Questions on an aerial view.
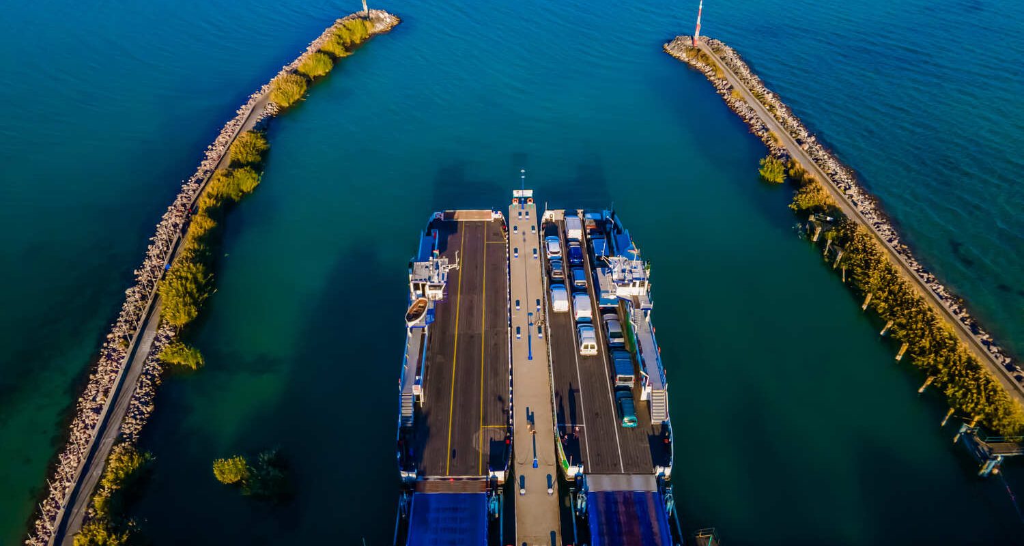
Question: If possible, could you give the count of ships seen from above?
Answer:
2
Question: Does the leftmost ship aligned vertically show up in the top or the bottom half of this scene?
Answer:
bottom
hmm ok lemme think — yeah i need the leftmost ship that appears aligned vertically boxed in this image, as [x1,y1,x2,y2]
[393,212,511,508]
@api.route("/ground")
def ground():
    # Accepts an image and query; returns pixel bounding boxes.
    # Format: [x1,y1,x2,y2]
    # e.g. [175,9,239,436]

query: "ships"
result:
[393,212,511,508]
[541,211,676,506]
